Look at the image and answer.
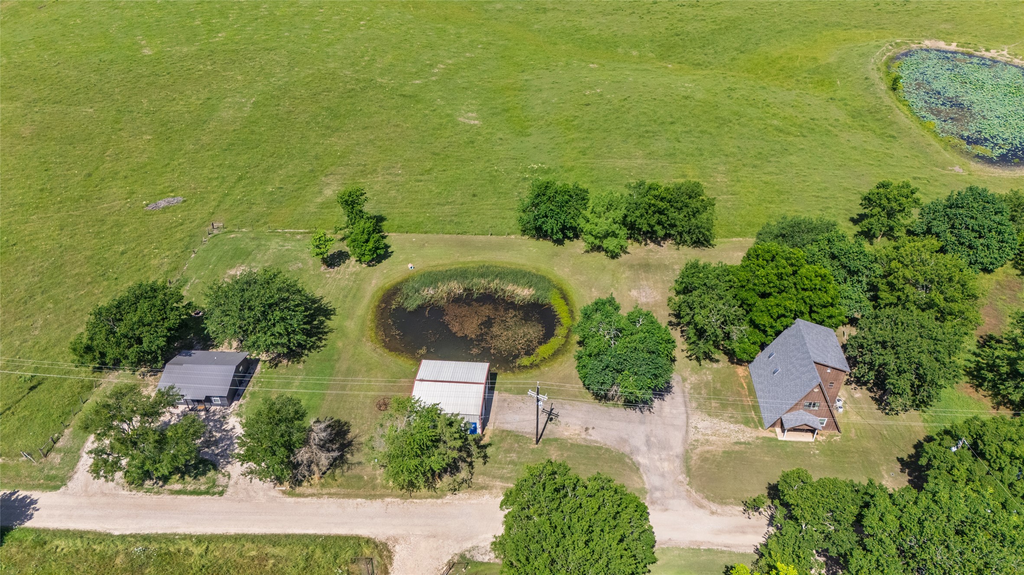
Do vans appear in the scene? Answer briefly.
No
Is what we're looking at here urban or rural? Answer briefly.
rural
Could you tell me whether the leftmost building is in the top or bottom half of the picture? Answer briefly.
bottom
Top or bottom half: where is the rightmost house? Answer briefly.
bottom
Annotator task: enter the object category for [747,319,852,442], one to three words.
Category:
house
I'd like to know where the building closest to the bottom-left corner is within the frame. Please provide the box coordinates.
[156,352,249,412]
